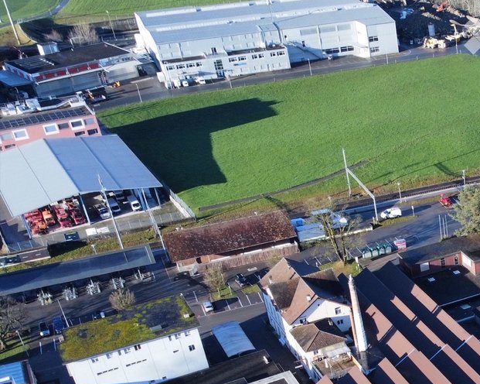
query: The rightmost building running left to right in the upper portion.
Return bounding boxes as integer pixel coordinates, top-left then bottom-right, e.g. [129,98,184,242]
[128,0,398,85]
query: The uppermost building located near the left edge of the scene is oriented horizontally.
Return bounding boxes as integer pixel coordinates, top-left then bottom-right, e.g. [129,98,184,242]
[0,39,145,102]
